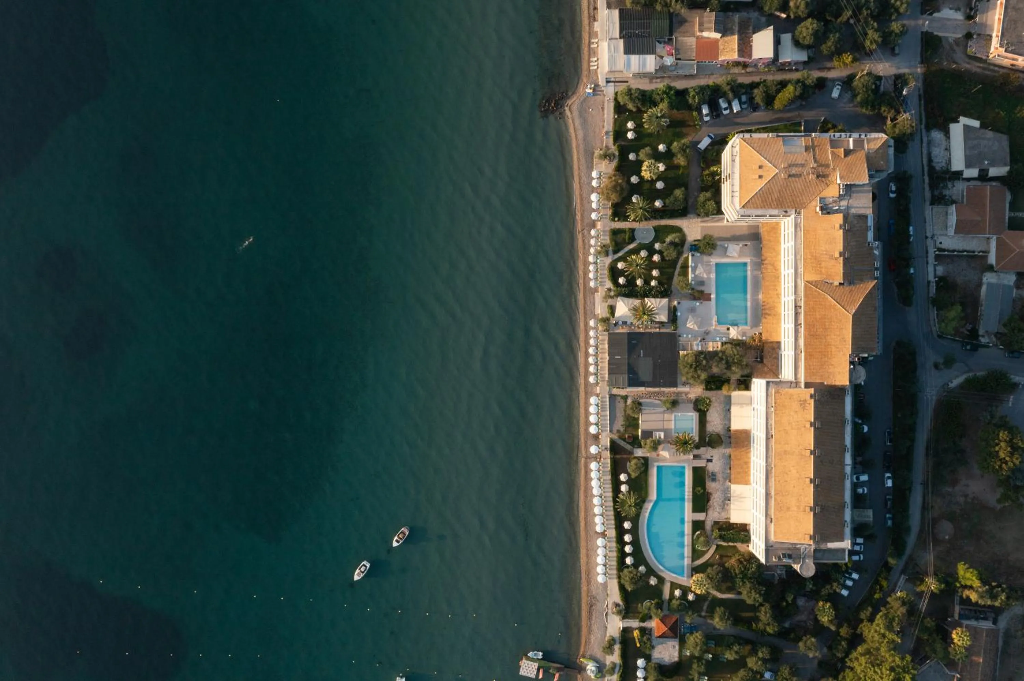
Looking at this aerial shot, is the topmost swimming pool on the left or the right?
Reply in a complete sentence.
The topmost swimming pool appears in the right half of the scene.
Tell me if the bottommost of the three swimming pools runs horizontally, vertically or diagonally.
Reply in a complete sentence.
The bottommost of the three swimming pools is oriented vertically.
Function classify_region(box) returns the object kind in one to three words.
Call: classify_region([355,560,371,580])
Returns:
boat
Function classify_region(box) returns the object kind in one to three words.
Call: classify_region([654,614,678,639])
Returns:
gazebo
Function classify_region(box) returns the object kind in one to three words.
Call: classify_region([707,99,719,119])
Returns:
vehicle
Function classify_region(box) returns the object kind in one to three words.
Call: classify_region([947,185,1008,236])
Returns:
house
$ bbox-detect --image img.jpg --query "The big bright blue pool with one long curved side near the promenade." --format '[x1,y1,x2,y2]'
[639,456,692,587]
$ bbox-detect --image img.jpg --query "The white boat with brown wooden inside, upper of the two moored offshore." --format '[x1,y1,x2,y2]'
[394,527,410,547]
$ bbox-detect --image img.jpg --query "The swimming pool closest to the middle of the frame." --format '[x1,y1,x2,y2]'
[640,404,698,449]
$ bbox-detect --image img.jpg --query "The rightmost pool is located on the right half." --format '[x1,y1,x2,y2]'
[678,243,760,342]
